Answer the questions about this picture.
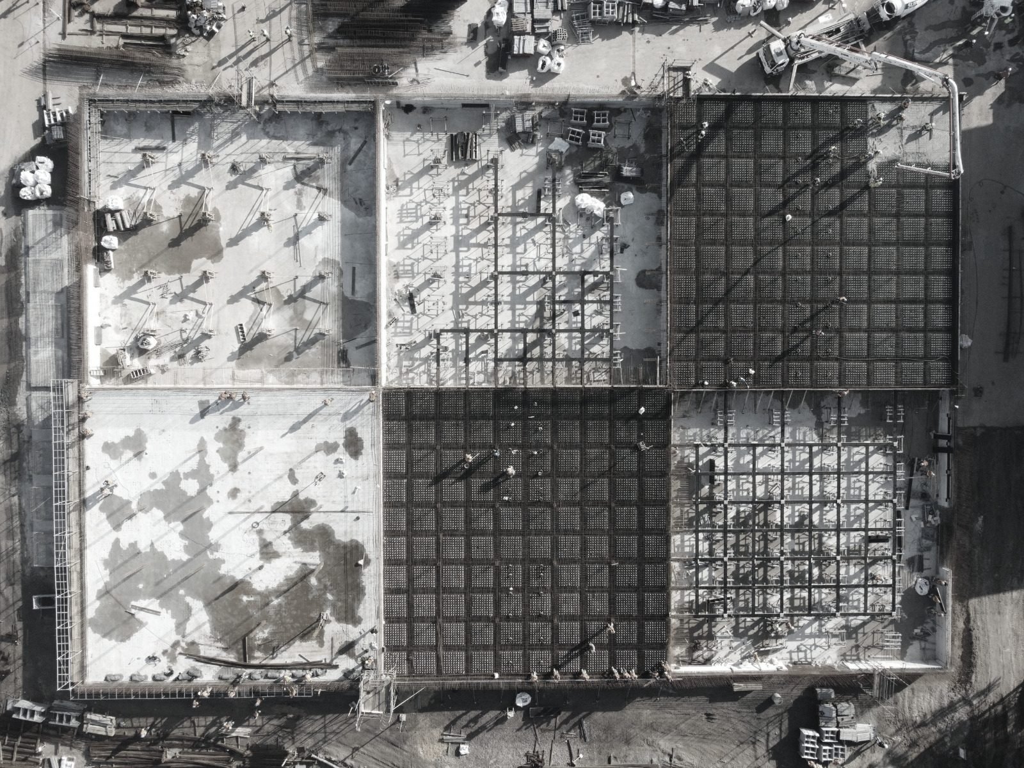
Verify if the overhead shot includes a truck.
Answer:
Yes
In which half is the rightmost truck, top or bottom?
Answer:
top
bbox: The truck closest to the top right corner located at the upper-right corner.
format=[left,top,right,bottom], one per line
[966,0,1015,45]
